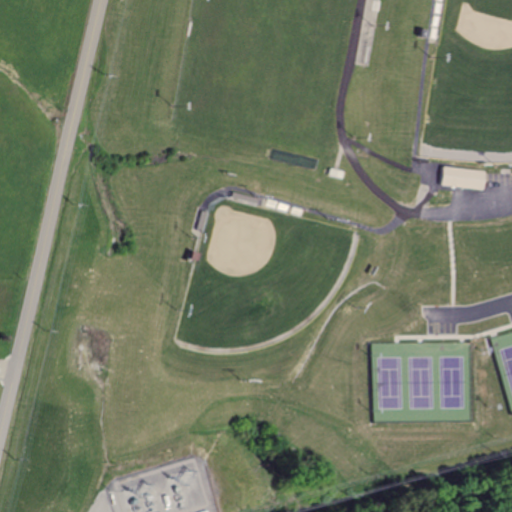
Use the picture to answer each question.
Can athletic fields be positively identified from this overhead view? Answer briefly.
Yes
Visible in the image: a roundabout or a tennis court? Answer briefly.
tennis court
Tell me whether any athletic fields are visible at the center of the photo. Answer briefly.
Yes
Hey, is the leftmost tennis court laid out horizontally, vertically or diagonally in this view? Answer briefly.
vertically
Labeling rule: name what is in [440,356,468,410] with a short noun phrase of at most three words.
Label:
tennis court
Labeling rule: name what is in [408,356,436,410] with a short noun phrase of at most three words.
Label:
tennis court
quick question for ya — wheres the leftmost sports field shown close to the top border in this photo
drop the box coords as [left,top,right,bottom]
[172,0,358,156]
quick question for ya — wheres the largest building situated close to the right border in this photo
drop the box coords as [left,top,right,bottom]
[438,166,486,190]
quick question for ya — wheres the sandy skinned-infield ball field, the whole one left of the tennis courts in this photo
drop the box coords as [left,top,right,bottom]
[177,200,358,354]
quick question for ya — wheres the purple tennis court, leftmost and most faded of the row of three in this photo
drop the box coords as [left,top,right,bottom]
[376,356,402,410]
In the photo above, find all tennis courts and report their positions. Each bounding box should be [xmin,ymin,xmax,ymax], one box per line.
[440,356,468,410]
[500,347,512,394]
[376,356,402,410]
[408,356,436,410]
